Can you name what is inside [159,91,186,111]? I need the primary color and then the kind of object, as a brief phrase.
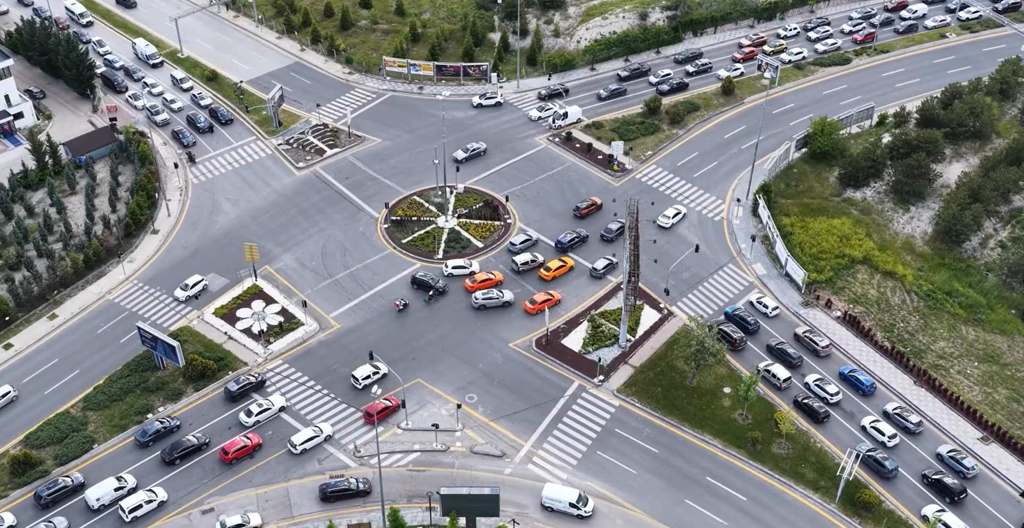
white car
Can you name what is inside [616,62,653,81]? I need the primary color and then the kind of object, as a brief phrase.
gray vehicle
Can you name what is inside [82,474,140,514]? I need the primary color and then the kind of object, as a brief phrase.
white van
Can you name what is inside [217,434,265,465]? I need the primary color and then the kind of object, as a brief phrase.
red car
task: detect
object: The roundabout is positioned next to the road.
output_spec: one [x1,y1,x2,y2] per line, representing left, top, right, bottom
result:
[384,187,510,260]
